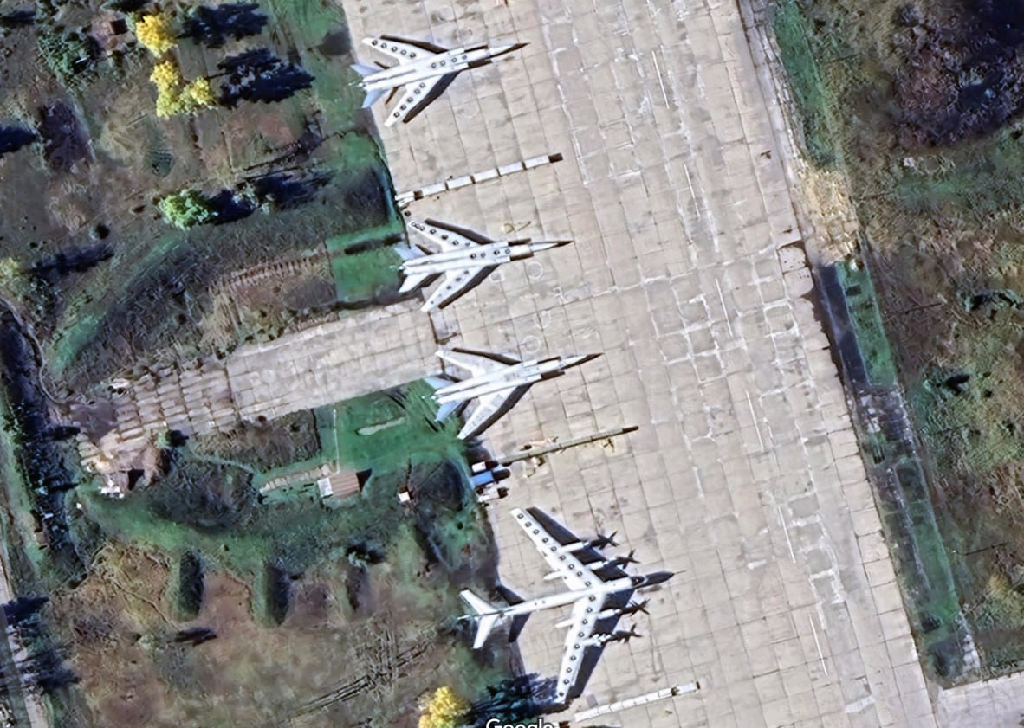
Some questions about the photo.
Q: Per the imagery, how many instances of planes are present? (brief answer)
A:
4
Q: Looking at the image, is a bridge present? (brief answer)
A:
No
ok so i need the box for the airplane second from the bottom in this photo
[424,348,585,438]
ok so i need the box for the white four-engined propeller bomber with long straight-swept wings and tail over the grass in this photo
[461,510,660,703]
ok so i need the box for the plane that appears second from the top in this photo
[390,220,555,311]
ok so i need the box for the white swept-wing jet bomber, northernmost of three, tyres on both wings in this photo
[351,36,511,125]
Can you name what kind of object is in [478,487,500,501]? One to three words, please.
vehicle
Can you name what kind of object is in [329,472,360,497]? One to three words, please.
shed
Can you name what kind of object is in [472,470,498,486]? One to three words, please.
vehicle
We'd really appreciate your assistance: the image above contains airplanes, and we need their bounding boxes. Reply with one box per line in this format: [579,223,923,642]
[390,220,555,311]
[424,348,585,438]
[461,510,660,703]
[351,36,511,125]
